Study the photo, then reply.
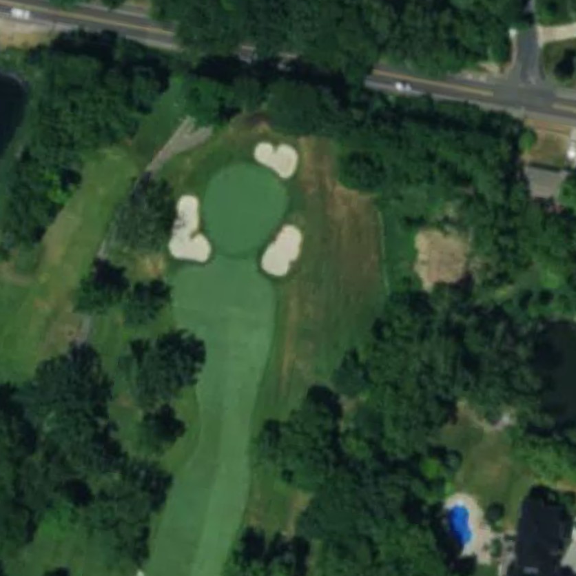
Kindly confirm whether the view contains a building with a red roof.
No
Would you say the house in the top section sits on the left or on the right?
right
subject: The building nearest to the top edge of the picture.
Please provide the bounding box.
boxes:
[524,166,565,203]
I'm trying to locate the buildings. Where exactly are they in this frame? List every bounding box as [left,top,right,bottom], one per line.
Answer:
[524,166,565,203]
[509,497,576,576]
